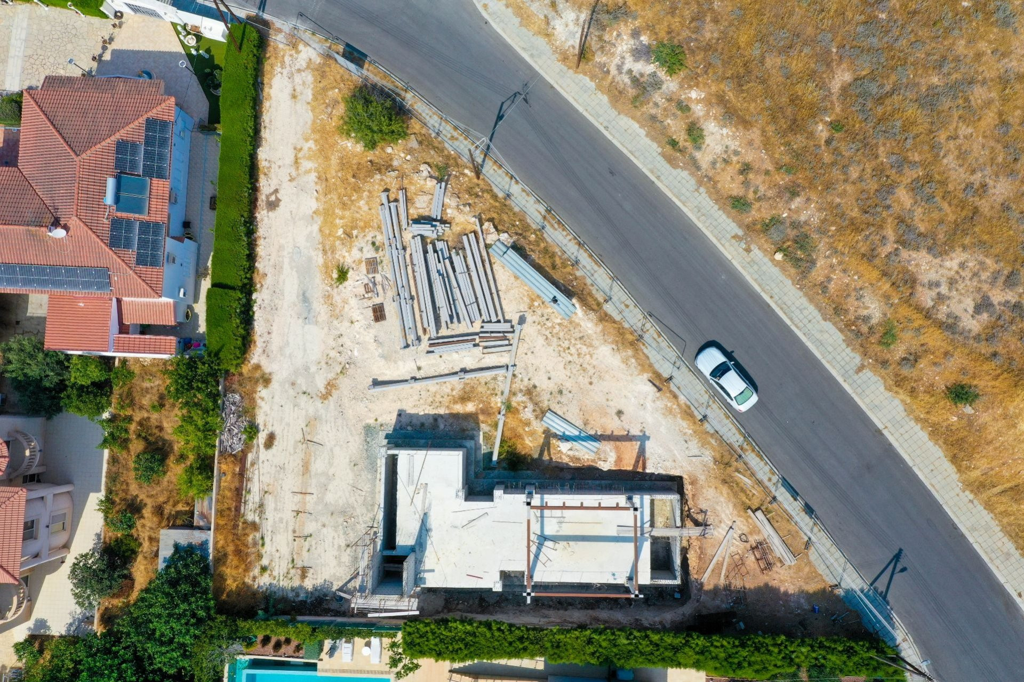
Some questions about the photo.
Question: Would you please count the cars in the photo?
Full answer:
My tally gives 1 car in this photo.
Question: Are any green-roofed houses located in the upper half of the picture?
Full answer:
No, there's no green-roofed house to be seen in the upper half of the picture.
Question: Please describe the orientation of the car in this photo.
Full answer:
The car is oriented diagonally.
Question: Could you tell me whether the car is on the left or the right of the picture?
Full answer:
The car appears in the right half of the scene.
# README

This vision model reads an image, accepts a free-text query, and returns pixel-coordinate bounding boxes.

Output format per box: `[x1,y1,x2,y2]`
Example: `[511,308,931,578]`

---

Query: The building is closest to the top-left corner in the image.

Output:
[0,75,201,358]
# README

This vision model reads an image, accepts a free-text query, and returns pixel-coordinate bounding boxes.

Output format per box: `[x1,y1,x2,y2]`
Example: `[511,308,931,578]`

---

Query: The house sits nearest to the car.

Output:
[367,431,683,596]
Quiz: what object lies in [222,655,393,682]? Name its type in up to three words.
swimming pool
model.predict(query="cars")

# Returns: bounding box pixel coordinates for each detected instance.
[696,347,759,413]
